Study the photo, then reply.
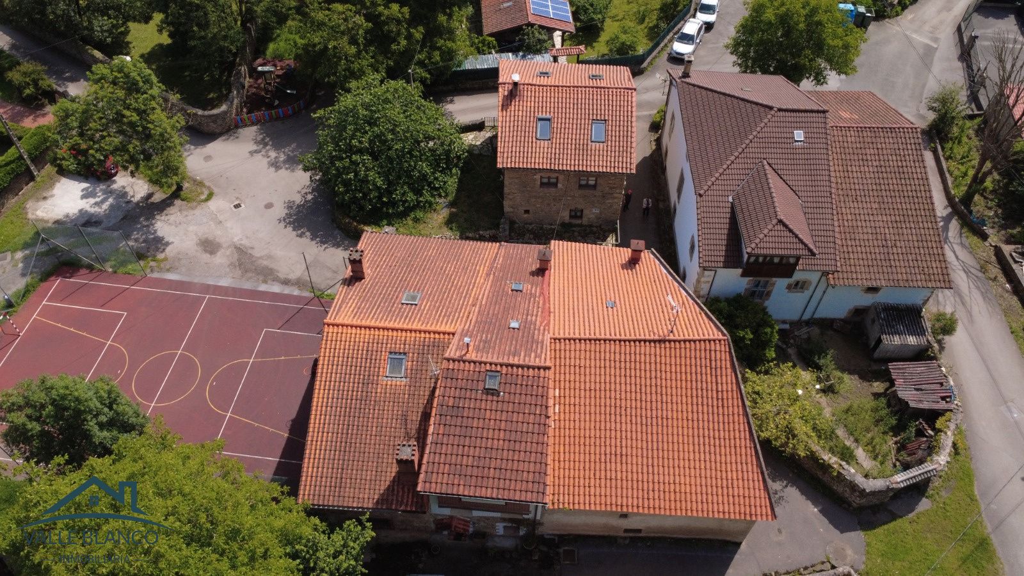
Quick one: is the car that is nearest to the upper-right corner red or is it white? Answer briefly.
white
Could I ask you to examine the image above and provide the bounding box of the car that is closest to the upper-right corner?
[696,0,725,28]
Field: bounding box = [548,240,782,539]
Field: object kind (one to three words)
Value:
house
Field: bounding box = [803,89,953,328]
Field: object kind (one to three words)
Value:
house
